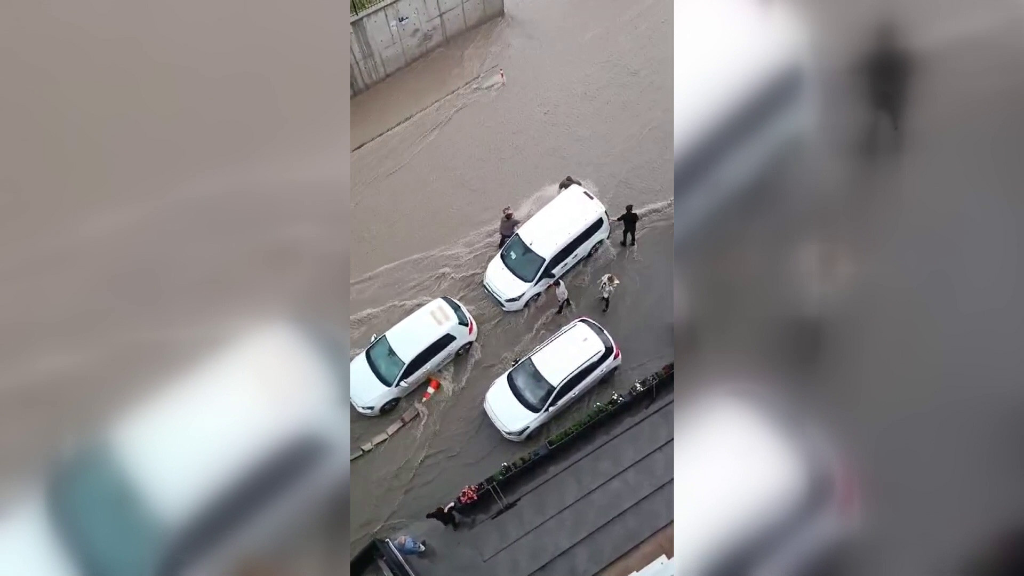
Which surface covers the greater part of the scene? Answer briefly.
water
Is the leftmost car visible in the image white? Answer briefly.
Yes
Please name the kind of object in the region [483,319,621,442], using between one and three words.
car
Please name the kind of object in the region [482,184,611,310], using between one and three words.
vehicle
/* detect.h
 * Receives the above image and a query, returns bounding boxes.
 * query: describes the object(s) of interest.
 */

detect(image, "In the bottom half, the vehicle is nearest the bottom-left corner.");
[342,297,476,414]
